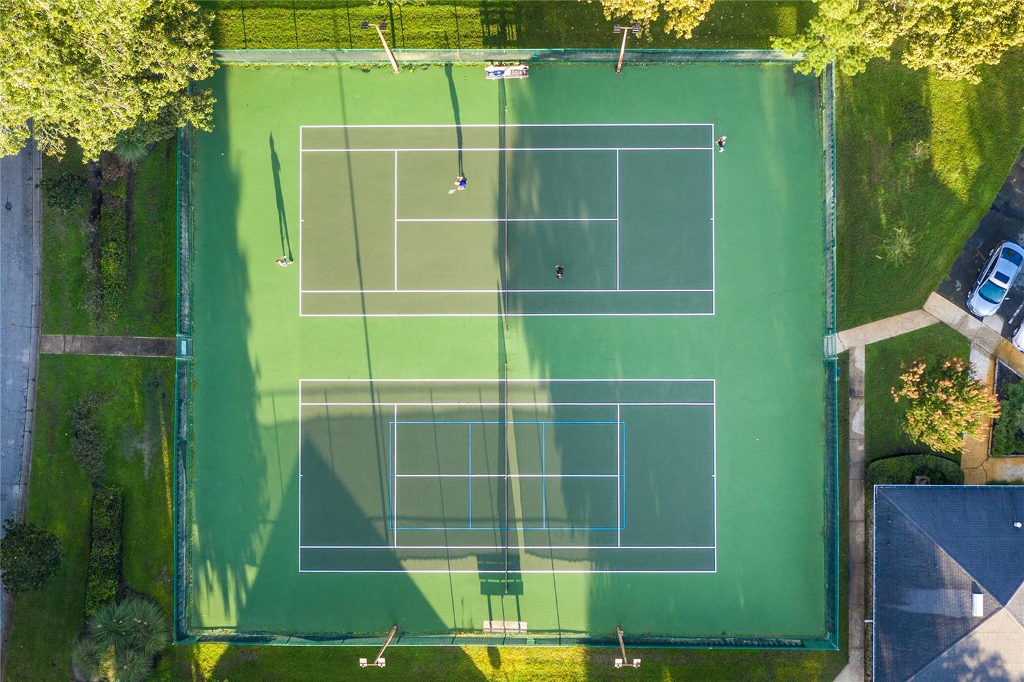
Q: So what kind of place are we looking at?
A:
sports ground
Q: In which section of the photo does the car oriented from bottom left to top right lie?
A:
right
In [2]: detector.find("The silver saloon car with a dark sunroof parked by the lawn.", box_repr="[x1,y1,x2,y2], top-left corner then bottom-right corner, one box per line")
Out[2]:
[964,237,1024,317]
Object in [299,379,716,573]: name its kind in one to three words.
tennis court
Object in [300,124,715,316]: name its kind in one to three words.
tennis court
